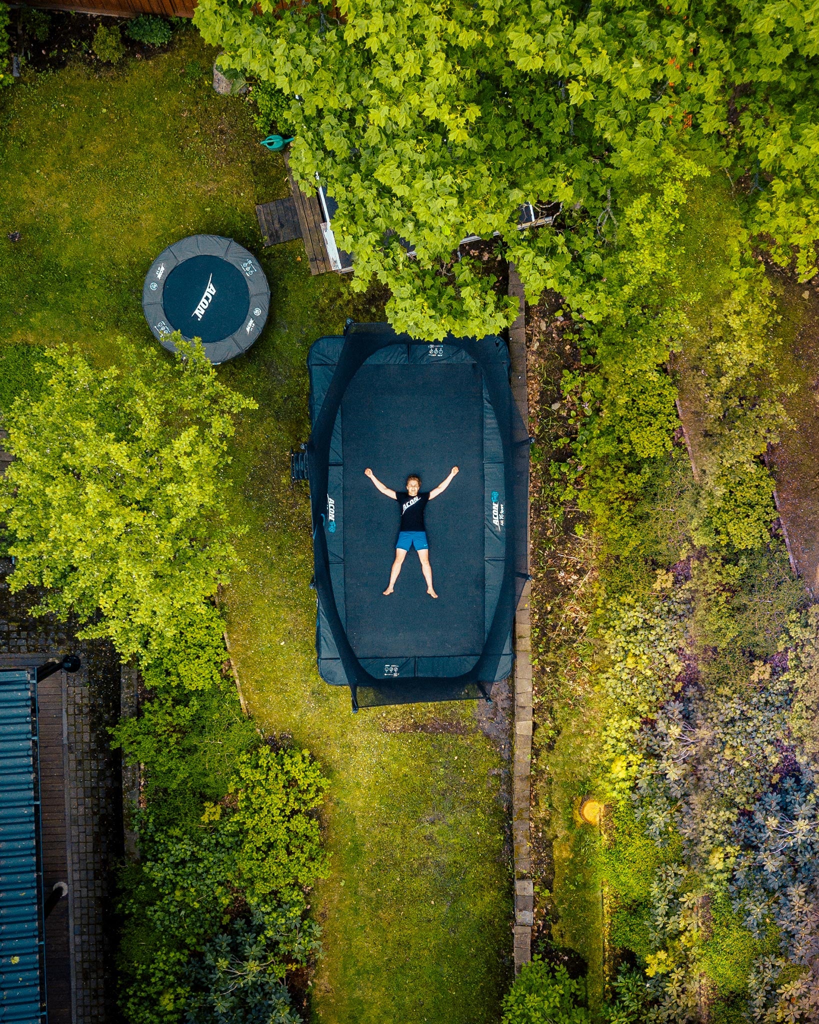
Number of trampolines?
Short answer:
2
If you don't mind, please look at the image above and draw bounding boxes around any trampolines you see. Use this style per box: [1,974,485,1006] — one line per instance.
[300,316,536,712]
[142,236,271,365]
